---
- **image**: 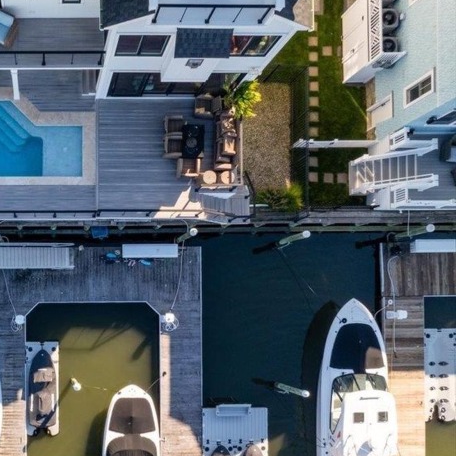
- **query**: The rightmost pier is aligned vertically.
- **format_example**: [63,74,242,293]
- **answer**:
[426,329,456,422]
